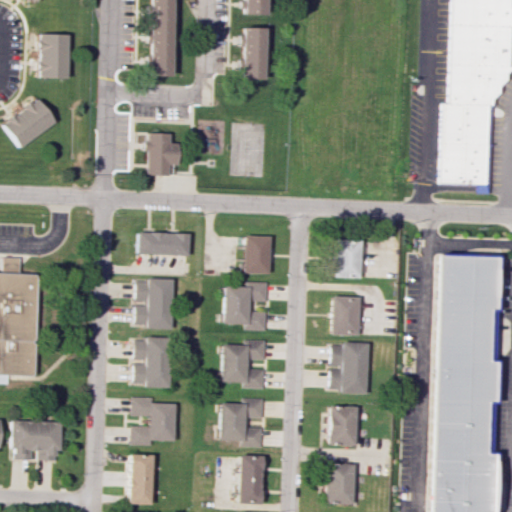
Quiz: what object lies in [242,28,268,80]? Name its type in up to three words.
building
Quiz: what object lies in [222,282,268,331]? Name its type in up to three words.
house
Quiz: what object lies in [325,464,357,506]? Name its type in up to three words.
house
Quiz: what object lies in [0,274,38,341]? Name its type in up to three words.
building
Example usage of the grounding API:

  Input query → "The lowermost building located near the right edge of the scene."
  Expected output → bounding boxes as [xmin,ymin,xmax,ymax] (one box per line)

[431,254,504,512]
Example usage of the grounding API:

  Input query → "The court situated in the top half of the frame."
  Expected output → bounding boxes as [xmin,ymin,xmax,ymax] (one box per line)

[231,123,264,178]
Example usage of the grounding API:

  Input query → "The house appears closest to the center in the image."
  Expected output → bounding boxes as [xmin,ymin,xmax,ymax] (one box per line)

[244,236,270,274]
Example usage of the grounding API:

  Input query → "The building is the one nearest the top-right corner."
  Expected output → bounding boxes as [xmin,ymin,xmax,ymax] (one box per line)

[438,0,512,194]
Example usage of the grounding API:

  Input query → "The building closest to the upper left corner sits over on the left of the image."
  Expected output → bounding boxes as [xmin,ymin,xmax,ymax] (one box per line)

[36,34,70,79]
